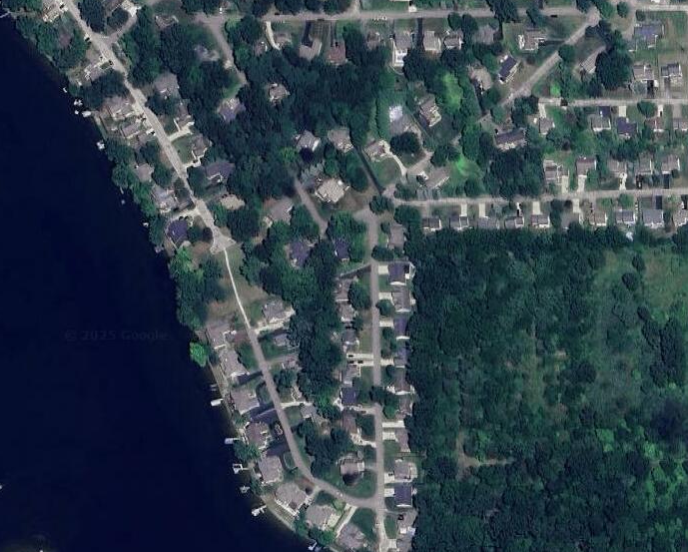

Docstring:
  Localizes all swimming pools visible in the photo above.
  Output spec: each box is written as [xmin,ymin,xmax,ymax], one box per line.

[390,107,402,120]
[394,54,406,66]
